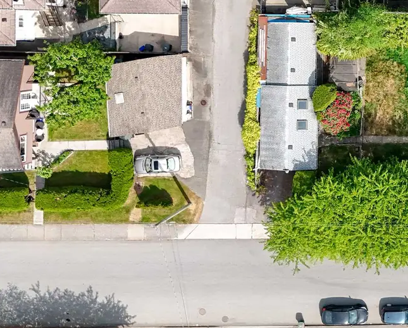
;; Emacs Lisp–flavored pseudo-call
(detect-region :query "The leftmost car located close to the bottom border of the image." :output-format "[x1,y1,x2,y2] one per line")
[321,302,369,327]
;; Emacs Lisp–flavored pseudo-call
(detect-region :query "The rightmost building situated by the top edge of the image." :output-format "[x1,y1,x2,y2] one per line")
[260,15,318,86]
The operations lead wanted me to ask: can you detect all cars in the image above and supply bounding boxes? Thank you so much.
[135,153,183,177]
[321,302,369,327]
[380,302,408,323]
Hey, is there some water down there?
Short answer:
No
